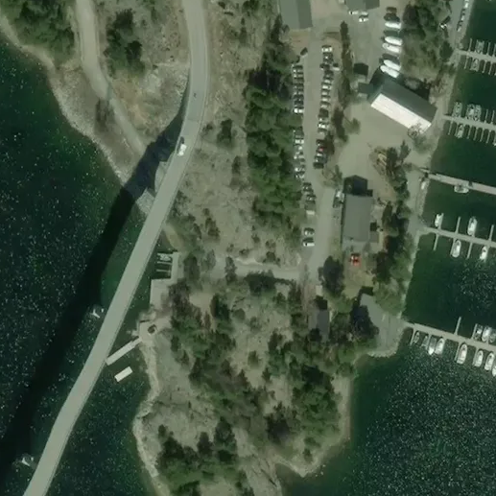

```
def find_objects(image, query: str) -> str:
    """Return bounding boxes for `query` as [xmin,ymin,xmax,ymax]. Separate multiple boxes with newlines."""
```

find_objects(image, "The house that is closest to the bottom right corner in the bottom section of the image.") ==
[361,291,391,328]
